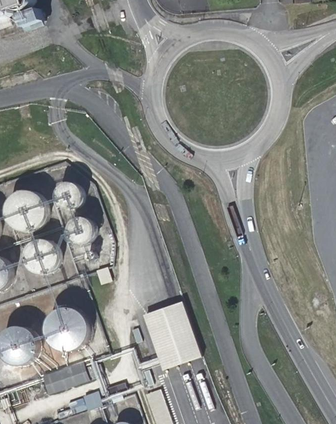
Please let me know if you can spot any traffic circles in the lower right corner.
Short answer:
No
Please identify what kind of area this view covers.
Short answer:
industrial area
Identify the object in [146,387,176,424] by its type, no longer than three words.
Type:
building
